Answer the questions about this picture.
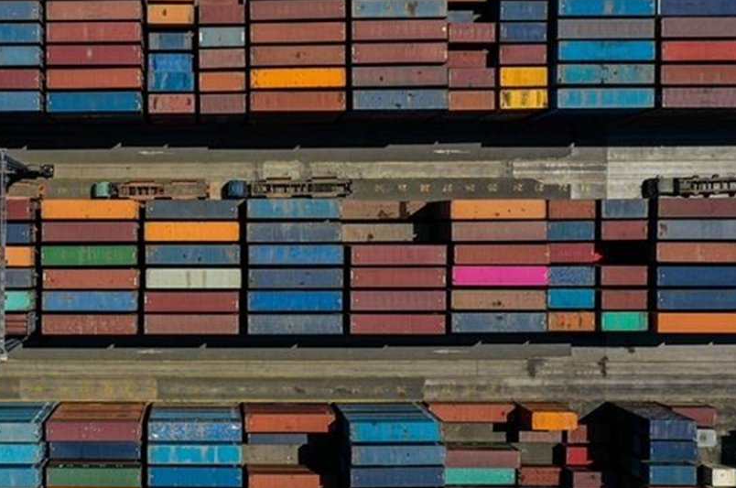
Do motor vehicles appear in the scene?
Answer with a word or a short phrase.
Yes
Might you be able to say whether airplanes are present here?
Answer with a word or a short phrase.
No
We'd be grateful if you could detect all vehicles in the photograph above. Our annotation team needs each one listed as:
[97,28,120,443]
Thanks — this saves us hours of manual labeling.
[91,178,208,200]
[225,178,351,200]
[646,175,736,198]
[2,181,51,200]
